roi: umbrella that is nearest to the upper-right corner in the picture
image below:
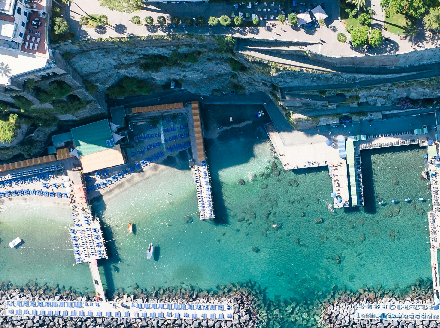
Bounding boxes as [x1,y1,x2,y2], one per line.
[311,4,327,19]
